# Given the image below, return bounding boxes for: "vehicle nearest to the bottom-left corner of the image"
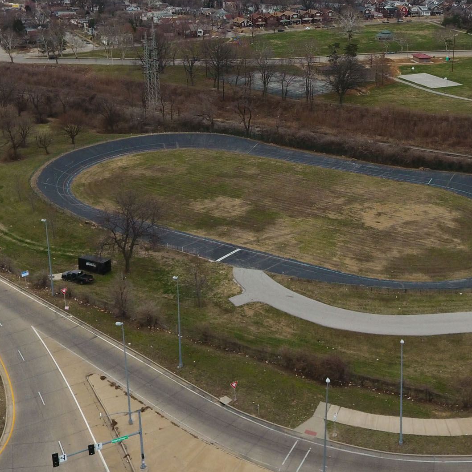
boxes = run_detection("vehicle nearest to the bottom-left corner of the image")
[61,270,95,286]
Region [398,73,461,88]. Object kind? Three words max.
basketball court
